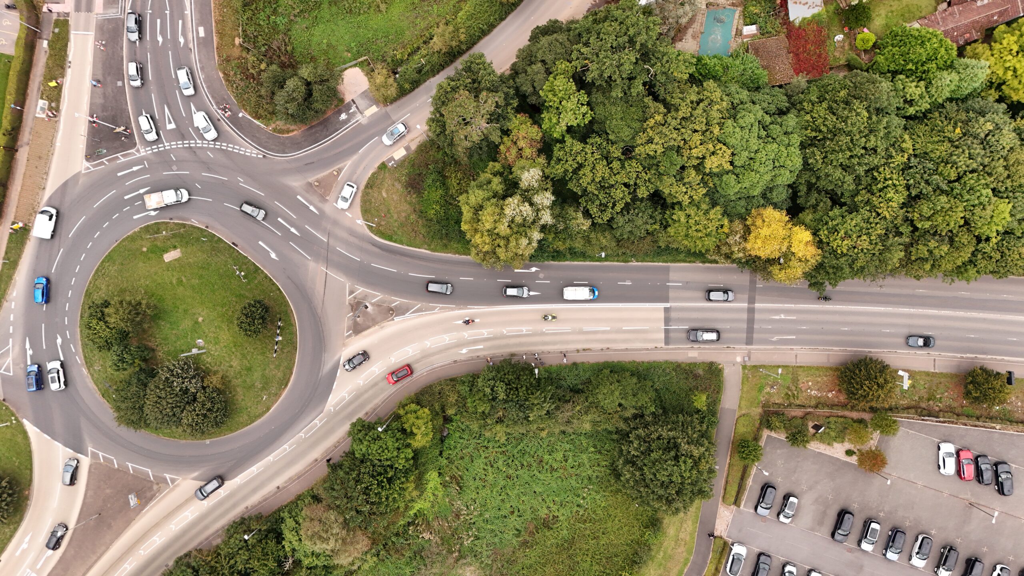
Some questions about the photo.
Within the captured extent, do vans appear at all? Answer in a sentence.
Yes, the image includes a van.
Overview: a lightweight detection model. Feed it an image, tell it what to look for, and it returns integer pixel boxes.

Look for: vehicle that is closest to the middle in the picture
[503,285,530,300]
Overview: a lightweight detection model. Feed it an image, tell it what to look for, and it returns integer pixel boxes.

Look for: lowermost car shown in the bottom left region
[43,520,71,553]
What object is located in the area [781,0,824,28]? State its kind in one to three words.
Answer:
shed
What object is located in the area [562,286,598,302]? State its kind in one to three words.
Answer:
vehicle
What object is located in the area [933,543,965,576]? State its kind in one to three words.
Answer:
car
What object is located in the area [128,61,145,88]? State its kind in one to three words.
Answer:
car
